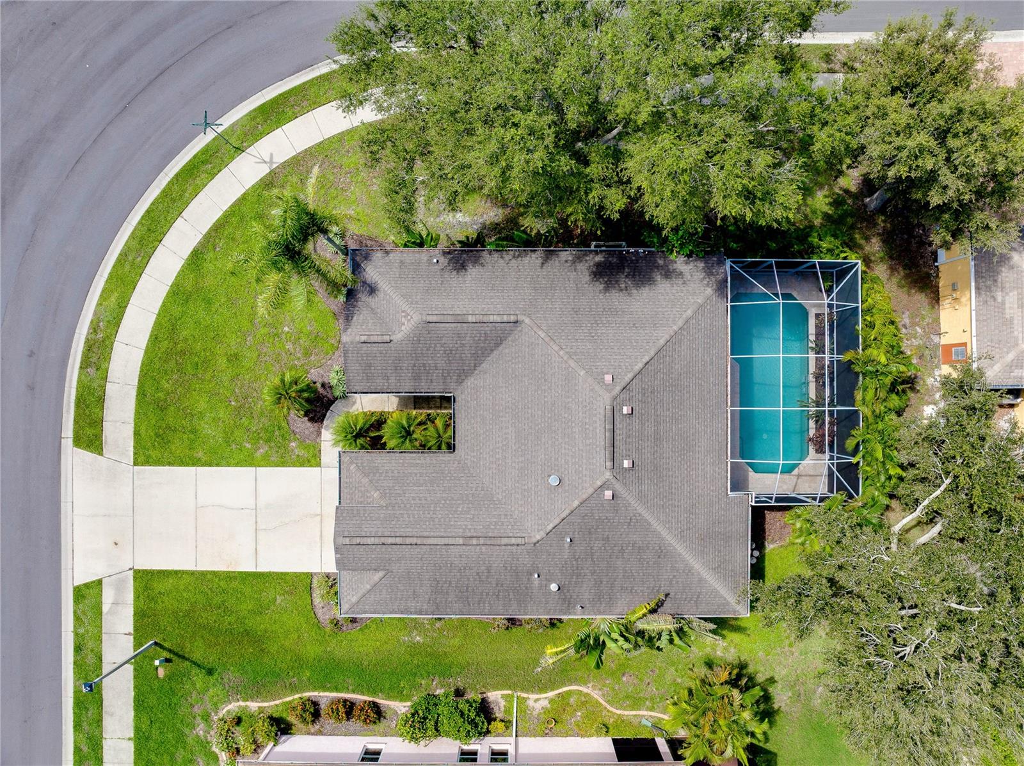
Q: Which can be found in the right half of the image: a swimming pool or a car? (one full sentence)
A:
It is a swimming pool that can be seen in the right half of the image.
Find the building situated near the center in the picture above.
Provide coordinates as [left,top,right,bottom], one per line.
[333,248,752,616]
